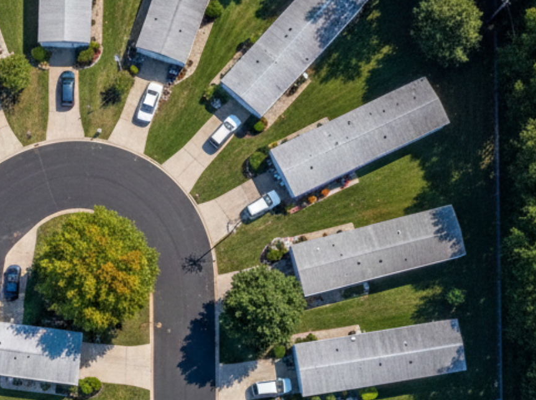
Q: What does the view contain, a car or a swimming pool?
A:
car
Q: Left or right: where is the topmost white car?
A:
left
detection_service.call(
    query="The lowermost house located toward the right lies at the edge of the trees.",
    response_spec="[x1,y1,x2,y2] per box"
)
[292,318,466,398]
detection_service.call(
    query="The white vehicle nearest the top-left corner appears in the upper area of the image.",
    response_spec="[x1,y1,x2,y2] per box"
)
[139,83,162,122]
